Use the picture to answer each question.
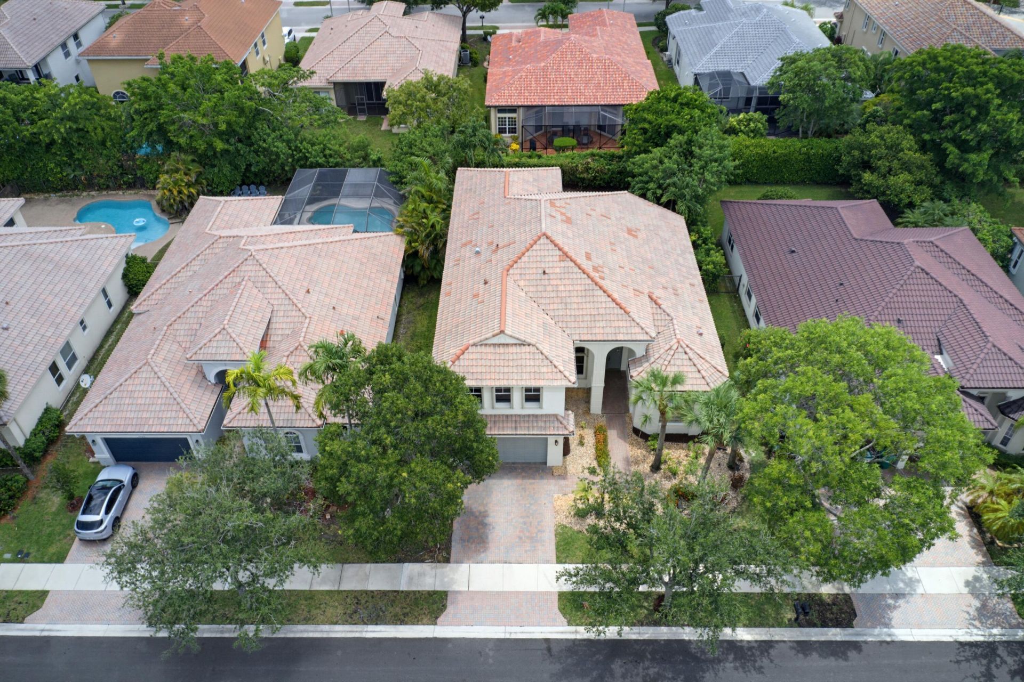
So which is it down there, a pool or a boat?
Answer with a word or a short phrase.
pool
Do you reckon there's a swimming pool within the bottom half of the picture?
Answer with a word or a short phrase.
No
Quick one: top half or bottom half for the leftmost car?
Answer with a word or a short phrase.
bottom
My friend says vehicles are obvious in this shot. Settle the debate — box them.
[282,25,297,49]
[65,466,137,544]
